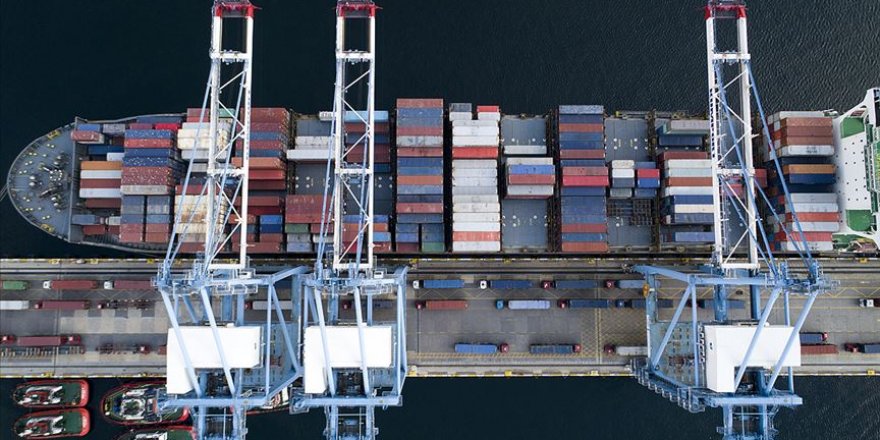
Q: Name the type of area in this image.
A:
port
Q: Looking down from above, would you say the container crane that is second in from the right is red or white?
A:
white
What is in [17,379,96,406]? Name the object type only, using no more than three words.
boat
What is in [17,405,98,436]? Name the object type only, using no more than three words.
boat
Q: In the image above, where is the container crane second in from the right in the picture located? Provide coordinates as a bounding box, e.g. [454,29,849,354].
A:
[284,0,423,440]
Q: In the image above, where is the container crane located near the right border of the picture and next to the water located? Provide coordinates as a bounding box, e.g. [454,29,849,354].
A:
[624,0,840,440]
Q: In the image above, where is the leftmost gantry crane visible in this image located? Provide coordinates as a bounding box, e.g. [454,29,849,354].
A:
[144,0,315,440]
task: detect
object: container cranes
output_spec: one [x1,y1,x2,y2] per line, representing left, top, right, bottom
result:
[624,0,840,440]
[284,0,423,440]
[144,0,315,440]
